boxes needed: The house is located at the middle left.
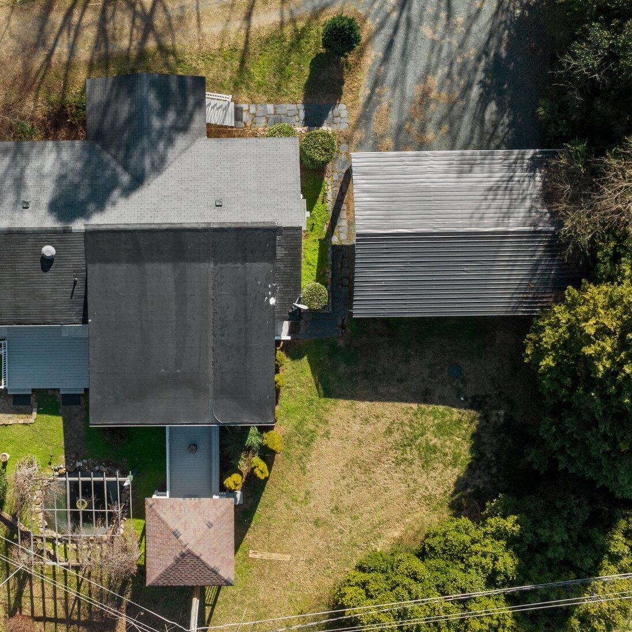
[0,73,314,427]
